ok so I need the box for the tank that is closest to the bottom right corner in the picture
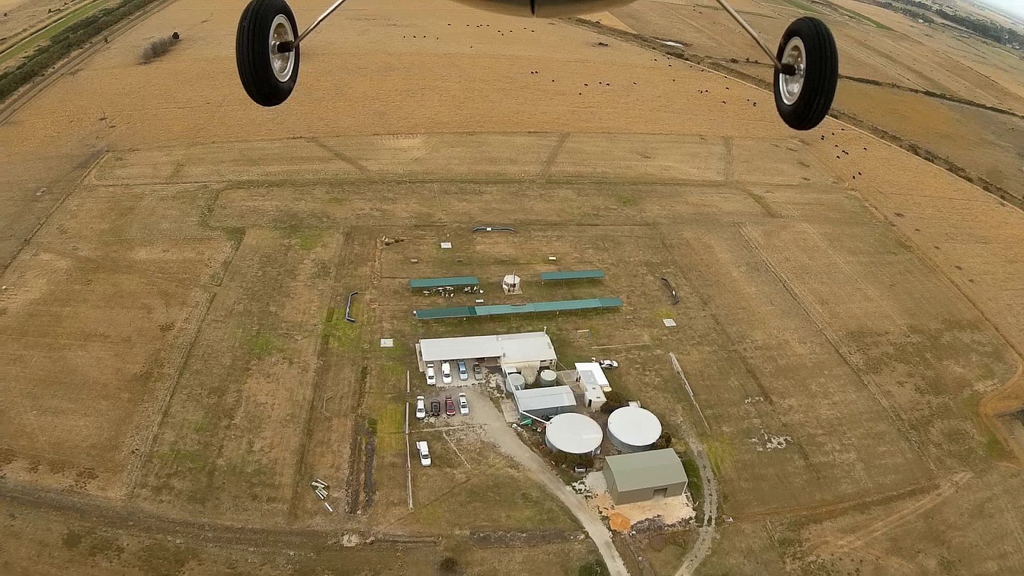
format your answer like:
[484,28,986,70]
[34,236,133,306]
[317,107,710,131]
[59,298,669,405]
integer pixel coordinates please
[606,401,661,454]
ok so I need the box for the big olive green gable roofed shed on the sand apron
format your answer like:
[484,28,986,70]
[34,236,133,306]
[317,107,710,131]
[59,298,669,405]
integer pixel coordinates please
[604,447,690,505]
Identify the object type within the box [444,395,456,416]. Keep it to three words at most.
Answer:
vehicle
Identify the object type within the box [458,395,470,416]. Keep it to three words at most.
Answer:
vehicle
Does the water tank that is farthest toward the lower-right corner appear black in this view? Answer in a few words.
No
